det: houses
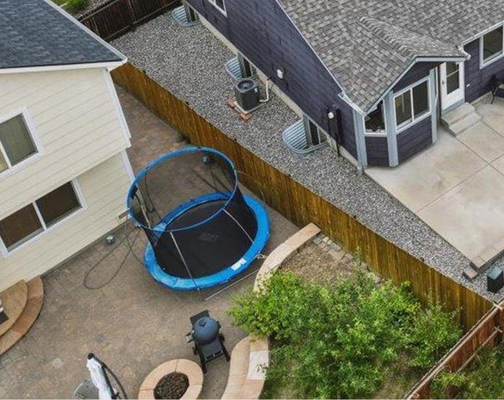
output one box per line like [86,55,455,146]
[0,0,143,291]
[183,0,504,176]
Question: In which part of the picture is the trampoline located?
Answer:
center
